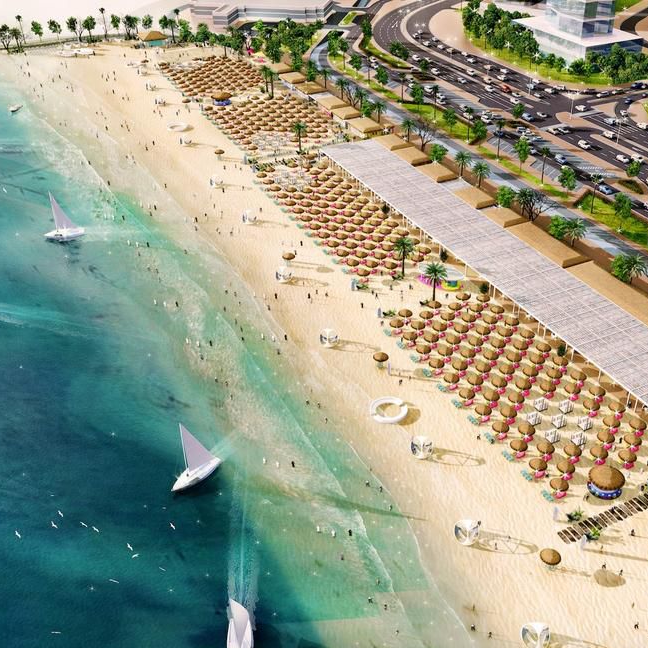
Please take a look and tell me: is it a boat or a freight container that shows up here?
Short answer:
boat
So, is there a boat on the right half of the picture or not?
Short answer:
No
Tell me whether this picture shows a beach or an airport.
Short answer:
beach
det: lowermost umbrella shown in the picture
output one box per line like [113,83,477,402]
[540,545,567,568]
